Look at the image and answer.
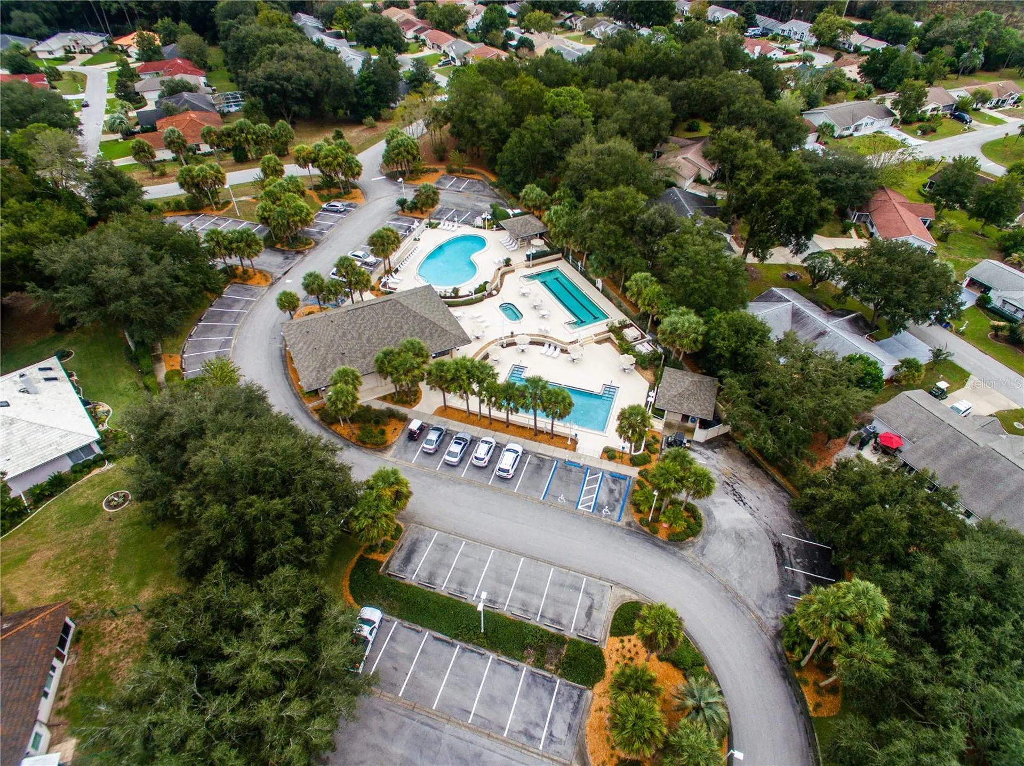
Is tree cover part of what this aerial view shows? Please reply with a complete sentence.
Yes, tree cover shows up in the scene.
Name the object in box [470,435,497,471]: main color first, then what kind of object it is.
white car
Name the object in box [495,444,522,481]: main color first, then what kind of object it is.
white car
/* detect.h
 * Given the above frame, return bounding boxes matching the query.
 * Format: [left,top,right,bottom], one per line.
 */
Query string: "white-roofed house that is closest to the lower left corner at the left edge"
[0,356,109,501]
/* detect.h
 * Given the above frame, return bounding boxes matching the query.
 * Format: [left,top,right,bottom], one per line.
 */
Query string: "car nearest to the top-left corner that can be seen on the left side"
[78,96,91,109]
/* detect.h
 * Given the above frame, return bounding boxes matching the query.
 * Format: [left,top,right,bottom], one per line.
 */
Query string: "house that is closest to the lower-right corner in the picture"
[871,381,1024,505]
